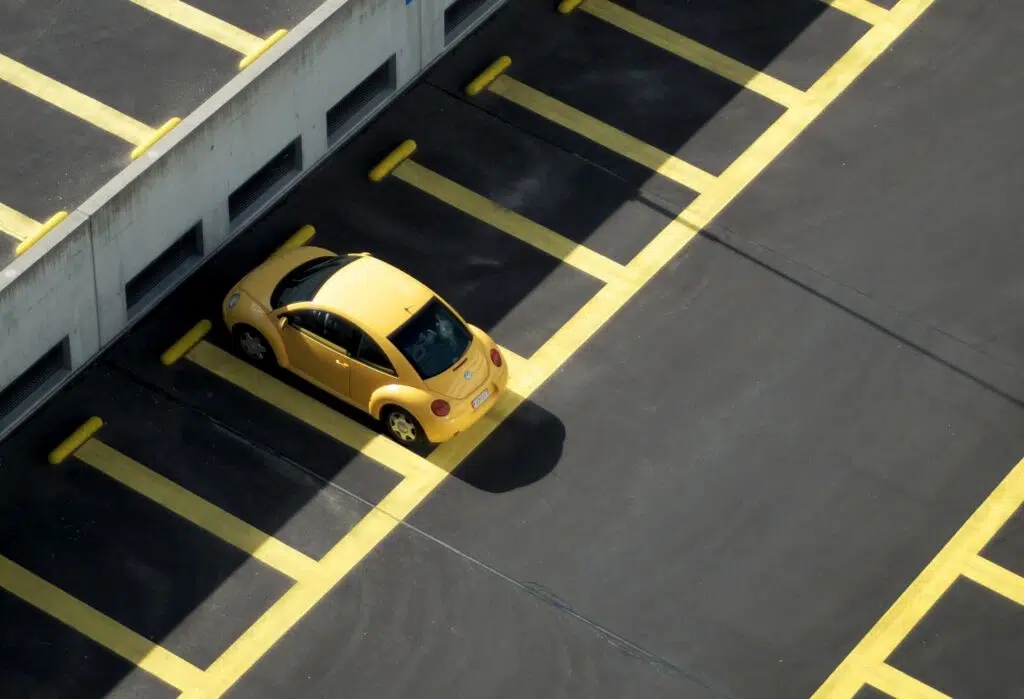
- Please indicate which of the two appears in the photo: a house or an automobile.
automobile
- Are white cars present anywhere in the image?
No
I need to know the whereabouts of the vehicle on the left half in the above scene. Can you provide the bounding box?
[224,244,508,445]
